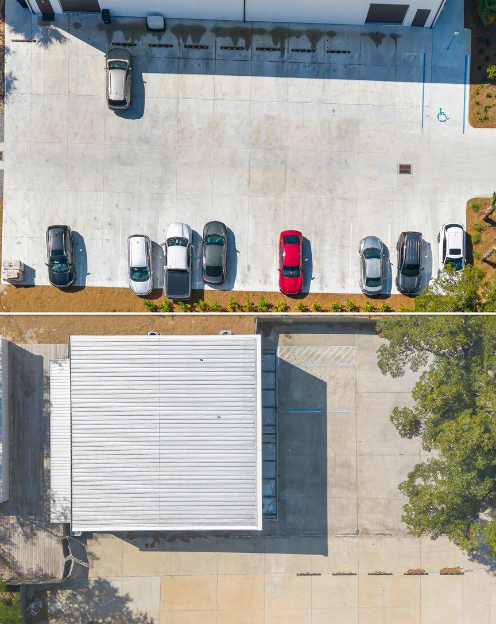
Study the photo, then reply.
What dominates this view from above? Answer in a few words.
paved ground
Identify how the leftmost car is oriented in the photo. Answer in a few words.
up and down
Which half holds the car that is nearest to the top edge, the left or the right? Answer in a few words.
left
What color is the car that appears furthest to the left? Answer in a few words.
black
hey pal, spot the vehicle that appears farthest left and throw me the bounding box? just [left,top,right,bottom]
[44,226,76,287]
